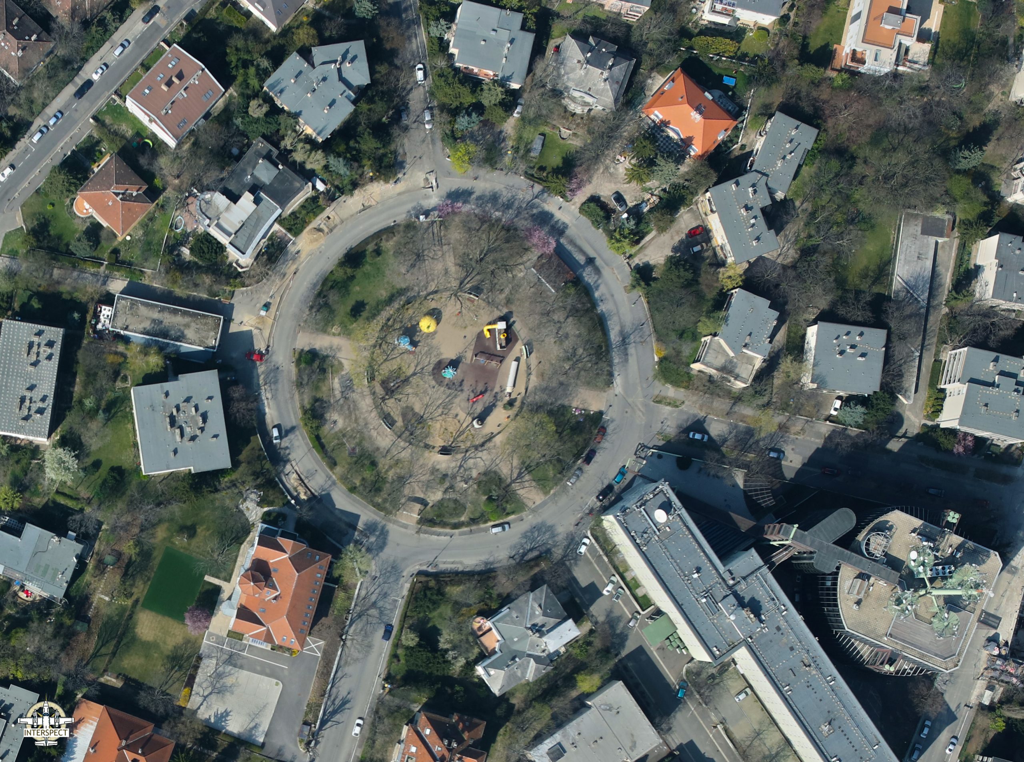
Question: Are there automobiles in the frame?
Yes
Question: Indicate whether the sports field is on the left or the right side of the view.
left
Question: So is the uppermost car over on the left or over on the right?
left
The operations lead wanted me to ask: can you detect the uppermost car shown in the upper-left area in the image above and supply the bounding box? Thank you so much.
[140,4,161,26]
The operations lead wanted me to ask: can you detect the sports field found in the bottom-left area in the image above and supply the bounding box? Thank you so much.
[141,546,207,624]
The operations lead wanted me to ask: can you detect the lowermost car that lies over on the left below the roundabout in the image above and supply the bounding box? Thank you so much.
[351,715,365,739]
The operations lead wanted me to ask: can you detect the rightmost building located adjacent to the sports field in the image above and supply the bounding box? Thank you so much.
[222,523,332,651]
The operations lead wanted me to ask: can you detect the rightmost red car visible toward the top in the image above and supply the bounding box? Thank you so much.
[685,225,706,238]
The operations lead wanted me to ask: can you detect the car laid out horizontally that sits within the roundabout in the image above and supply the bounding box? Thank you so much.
[488,522,512,535]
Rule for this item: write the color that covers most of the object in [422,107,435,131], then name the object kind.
gray vehicle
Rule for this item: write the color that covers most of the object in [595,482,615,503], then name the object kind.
black car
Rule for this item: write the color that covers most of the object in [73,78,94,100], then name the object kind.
black car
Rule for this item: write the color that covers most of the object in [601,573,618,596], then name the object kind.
white car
